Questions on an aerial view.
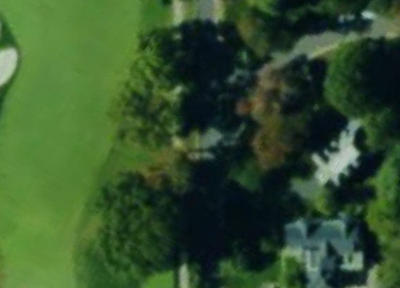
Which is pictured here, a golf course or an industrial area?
golf course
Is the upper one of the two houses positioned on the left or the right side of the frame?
right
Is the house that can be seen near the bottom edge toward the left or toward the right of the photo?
right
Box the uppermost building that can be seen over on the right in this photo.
[309,121,365,188]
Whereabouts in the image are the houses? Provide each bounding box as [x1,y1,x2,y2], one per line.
[309,121,365,188]
[287,219,365,288]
